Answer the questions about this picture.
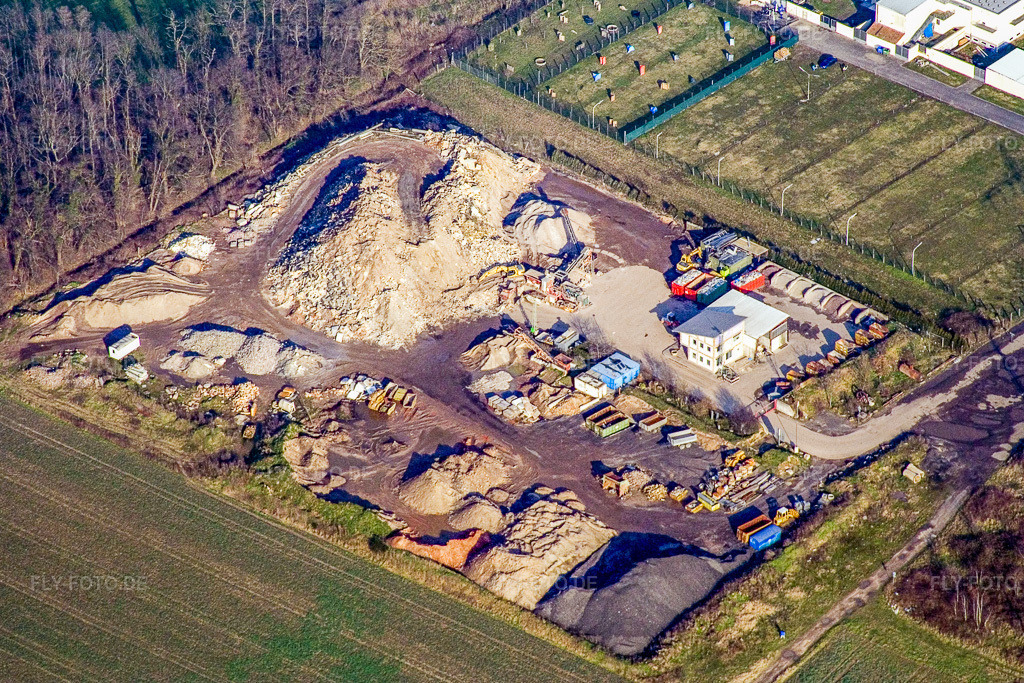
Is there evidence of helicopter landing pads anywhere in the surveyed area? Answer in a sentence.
No, I can't see a single helicopter landing pad in this photo.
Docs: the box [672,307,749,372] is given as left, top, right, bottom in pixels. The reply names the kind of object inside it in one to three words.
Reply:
building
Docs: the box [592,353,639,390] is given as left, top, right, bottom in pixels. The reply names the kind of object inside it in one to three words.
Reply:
building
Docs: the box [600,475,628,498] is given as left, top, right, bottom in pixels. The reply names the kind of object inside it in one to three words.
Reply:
truck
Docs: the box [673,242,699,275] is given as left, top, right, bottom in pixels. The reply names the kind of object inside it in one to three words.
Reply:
work vehicle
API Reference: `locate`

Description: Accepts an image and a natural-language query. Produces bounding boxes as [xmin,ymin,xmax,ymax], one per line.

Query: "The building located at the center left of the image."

[108,334,139,360]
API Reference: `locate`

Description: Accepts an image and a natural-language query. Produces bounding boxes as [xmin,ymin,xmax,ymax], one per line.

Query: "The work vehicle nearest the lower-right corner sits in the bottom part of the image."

[773,505,805,528]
